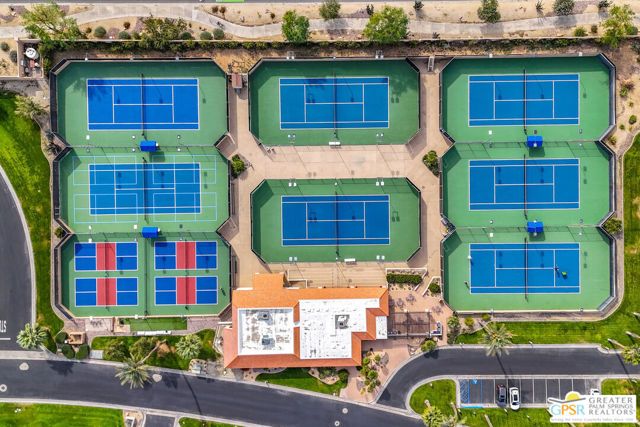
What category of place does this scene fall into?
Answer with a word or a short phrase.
sports ground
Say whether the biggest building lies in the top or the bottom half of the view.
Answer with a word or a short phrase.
bottom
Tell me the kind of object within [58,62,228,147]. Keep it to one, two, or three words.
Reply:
tennis court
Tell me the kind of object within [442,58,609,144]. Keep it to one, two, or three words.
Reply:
tennis court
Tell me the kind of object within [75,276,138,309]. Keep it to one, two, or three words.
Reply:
sports court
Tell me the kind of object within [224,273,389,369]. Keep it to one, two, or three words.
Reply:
building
